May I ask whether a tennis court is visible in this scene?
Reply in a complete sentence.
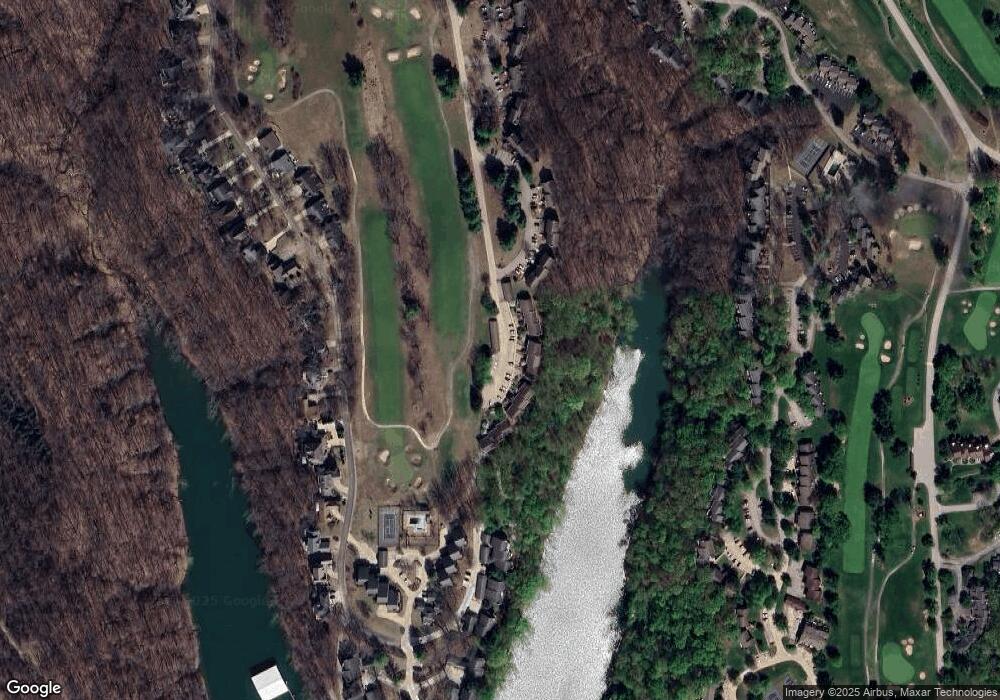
Yes, the picture does show a tennis court.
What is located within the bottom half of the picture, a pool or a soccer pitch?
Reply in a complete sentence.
What appears within the bottom half of the picture is a pool.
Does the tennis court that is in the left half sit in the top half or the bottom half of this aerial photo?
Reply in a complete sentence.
The bottom half of the photo is where the tennis court that is in the left half is.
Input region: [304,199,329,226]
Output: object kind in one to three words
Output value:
house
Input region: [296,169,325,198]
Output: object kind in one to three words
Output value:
house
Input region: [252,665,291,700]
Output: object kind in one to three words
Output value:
building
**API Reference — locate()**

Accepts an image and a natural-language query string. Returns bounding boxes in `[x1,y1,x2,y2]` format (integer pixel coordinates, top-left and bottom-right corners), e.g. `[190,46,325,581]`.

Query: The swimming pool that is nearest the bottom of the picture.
[402,507,440,547]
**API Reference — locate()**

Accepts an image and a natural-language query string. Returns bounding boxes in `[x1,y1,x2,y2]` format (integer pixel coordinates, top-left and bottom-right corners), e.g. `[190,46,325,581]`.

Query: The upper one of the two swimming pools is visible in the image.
[823,150,846,181]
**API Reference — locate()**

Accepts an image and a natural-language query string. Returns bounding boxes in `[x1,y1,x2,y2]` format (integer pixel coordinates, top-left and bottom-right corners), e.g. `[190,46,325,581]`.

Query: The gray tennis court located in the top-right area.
[793,136,829,176]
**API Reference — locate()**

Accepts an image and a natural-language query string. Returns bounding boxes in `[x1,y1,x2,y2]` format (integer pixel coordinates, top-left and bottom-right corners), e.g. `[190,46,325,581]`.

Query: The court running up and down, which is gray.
[379,506,399,547]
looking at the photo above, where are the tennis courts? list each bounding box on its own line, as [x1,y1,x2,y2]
[793,136,829,176]
[379,506,399,547]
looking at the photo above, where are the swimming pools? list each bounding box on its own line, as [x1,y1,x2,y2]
[823,150,846,181]
[402,507,440,547]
